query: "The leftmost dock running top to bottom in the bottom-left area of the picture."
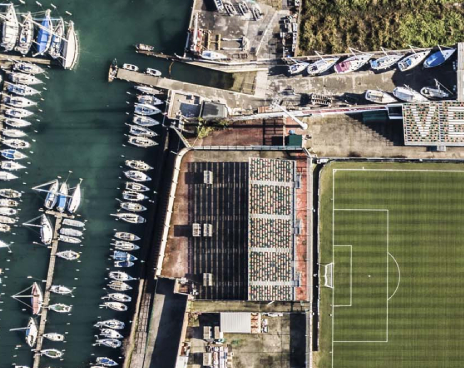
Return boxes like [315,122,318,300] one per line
[33,214,63,368]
